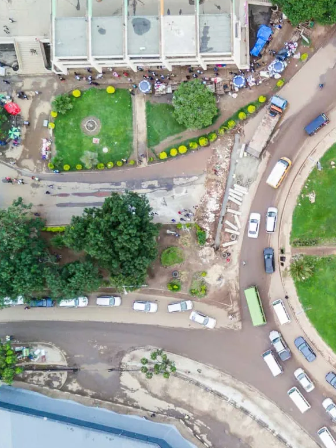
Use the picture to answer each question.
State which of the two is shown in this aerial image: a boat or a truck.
truck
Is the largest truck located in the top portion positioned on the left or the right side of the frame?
right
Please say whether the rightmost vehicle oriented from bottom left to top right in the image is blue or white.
blue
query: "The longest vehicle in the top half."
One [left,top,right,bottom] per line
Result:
[247,95,287,158]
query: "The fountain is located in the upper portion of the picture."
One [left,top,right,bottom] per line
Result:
[80,116,100,136]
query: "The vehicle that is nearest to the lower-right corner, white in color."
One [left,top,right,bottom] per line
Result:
[318,424,336,448]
